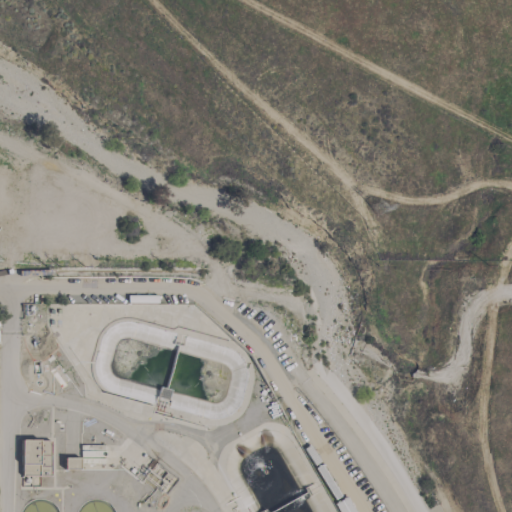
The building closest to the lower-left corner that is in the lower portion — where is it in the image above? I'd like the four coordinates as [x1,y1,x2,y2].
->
[22,440,54,487]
